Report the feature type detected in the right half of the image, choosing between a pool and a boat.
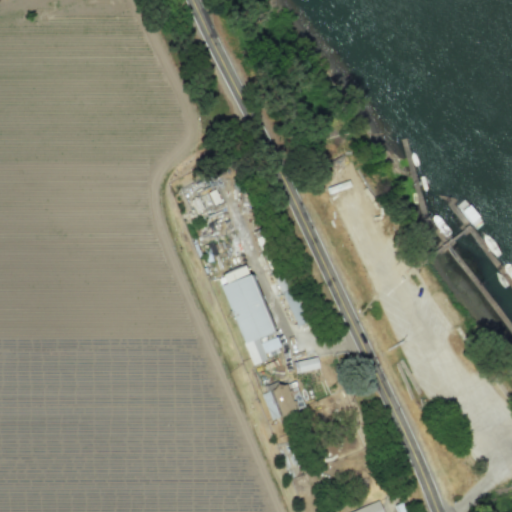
boat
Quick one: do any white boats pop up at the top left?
No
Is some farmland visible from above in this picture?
Yes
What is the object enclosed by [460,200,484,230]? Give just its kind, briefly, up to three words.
boat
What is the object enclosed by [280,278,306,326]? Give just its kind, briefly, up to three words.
shed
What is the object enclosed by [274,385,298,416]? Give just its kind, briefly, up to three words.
house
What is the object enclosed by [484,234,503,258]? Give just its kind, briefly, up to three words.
boat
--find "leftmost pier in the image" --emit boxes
[402,138,428,216]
